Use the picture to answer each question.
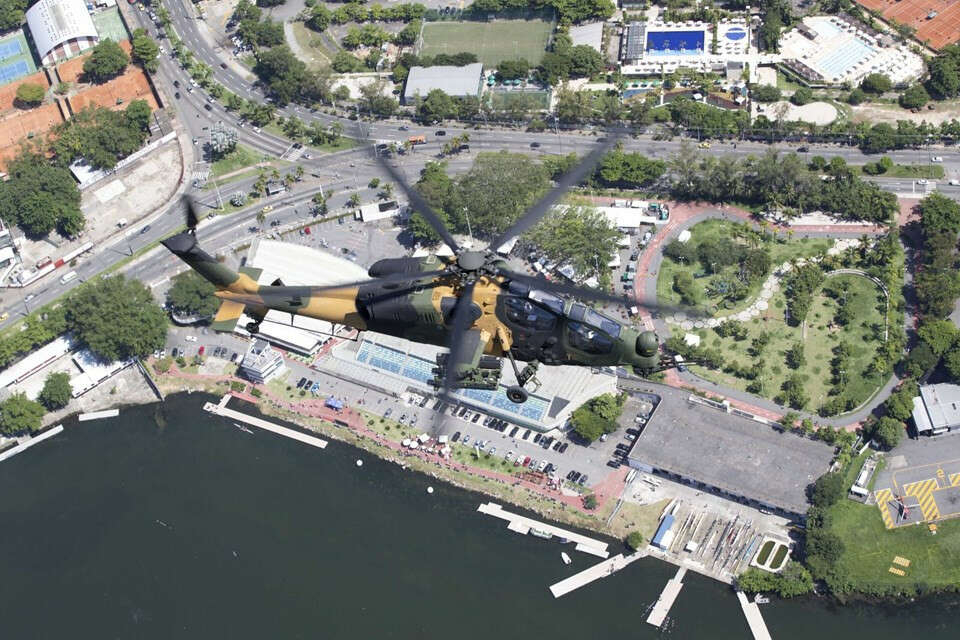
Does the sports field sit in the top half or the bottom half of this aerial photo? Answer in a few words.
top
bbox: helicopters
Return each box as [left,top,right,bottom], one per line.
[888,490,913,512]
[161,130,714,430]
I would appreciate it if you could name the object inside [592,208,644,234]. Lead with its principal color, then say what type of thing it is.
white tent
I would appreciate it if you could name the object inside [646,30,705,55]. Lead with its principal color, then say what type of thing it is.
blue swimming pool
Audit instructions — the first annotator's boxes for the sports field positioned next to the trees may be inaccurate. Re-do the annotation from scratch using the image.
[418,20,552,67]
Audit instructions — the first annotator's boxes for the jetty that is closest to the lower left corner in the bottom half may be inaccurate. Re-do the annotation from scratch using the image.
[0,425,65,464]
